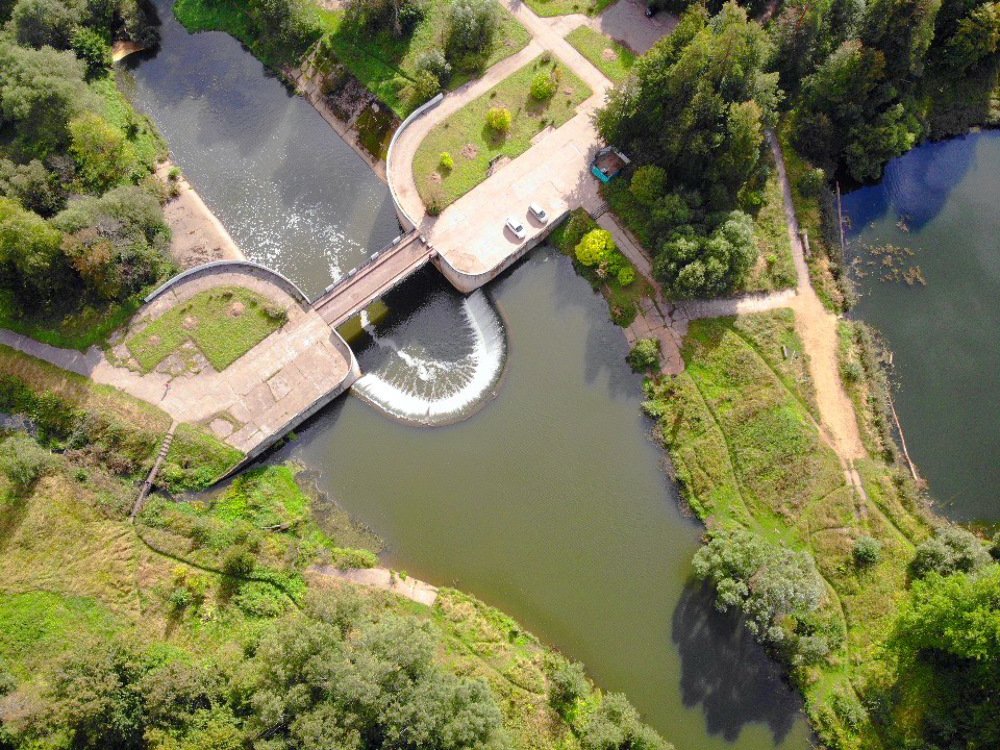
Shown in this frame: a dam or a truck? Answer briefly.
dam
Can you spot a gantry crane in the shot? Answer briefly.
No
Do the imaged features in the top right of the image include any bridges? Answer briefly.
No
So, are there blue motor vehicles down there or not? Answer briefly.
No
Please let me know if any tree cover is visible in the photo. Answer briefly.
Yes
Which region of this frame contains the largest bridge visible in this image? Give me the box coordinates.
[312,229,438,331]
